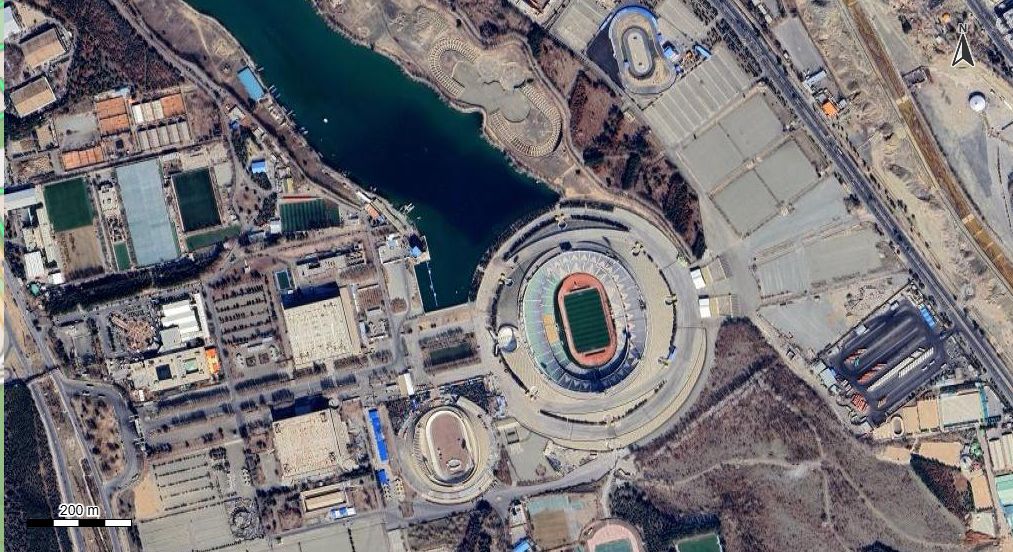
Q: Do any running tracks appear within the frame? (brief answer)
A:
Yes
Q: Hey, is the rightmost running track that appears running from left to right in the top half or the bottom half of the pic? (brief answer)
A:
bottom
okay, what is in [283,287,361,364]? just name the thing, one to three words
building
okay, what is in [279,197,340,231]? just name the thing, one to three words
sports field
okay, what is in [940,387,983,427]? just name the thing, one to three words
building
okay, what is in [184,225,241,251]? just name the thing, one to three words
sports field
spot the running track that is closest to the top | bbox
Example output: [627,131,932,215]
[557,273,618,366]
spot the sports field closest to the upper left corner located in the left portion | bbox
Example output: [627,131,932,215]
[45,178,93,231]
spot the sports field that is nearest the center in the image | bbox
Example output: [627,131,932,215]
[564,288,609,352]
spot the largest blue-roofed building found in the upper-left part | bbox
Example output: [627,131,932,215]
[238,67,264,100]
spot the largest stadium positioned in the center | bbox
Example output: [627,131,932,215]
[515,245,655,397]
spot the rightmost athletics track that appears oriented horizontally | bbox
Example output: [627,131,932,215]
[573,514,656,552]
